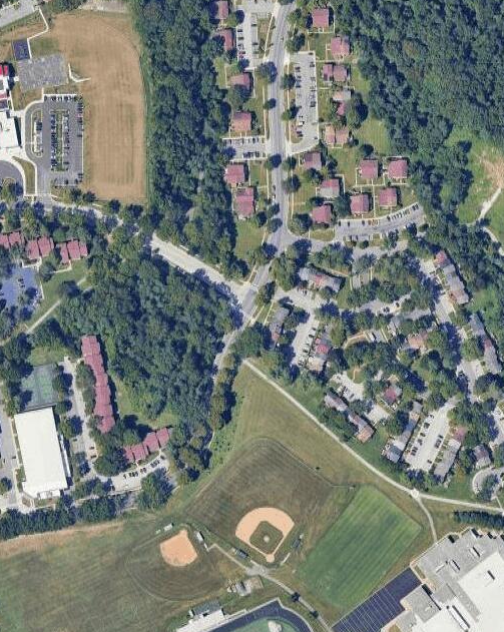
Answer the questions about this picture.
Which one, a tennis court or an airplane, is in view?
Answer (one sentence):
This aerial view contains a tennis court.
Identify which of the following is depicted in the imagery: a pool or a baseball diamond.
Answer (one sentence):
The image shows a baseball diamond.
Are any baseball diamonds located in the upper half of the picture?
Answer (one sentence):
No, looking in the upper half of the picture, there is no baseball diamond.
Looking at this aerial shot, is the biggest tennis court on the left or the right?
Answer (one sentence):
It is on the left.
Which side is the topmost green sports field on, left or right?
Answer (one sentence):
It is on the right.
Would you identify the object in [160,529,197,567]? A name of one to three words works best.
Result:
baseball field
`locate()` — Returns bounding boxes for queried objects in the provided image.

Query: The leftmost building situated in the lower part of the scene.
[15,407,71,500]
